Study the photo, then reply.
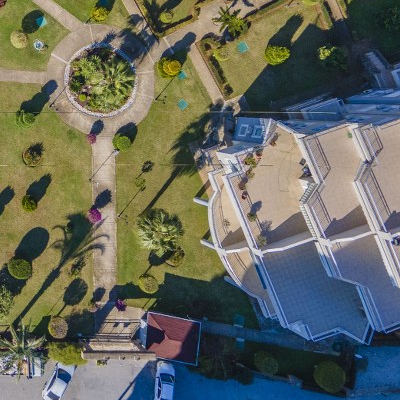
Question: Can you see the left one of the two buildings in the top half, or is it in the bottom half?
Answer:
bottom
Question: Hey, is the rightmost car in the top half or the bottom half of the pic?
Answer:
bottom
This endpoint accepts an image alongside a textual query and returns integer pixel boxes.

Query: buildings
[199,65,400,346]
[138,309,202,366]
